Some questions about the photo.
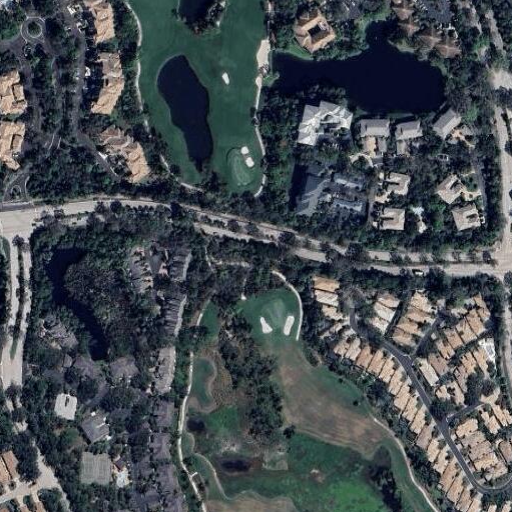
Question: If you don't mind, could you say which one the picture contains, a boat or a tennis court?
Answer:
tennis court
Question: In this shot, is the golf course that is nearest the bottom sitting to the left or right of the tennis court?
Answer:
to its right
